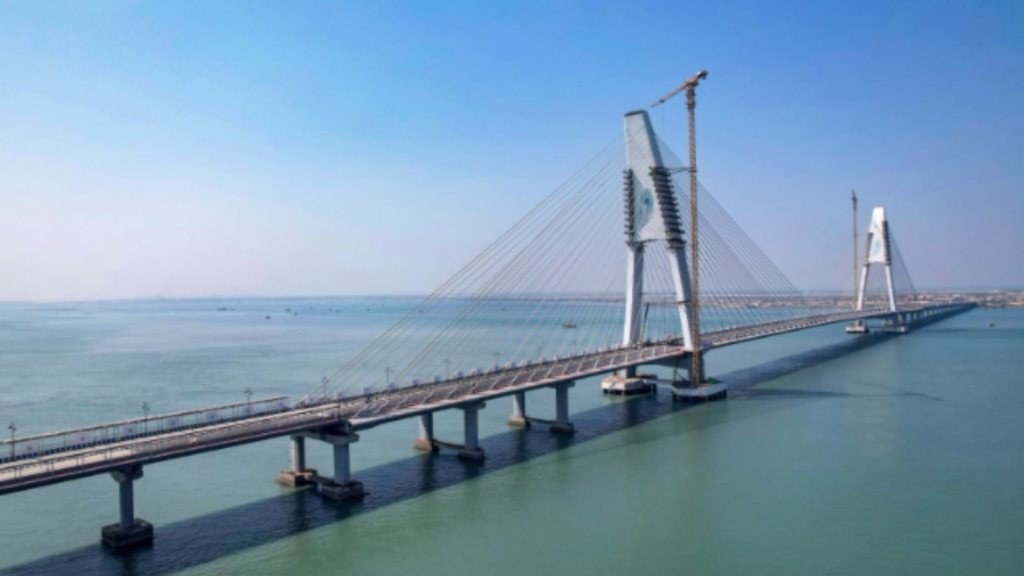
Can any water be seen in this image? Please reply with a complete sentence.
Yes, there is water in the image.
